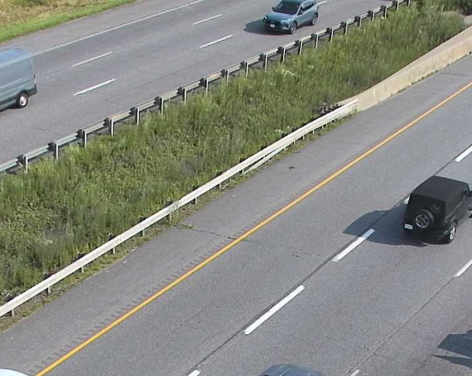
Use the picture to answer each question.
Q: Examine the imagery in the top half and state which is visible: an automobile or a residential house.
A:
automobile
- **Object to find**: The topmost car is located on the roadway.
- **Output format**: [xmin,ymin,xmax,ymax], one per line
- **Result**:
[262,0,323,33]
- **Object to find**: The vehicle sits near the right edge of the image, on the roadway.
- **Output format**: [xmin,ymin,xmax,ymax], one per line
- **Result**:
[403,176,472,242]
